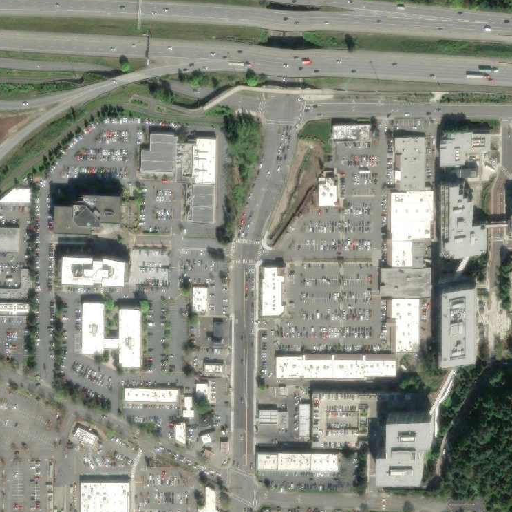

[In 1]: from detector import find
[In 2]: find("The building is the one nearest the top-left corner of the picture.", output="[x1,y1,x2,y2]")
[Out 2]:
[0,187,30,205]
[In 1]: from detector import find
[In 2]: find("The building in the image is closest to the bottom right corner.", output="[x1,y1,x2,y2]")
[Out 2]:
[375,411,432,488]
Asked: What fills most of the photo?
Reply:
paved ground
